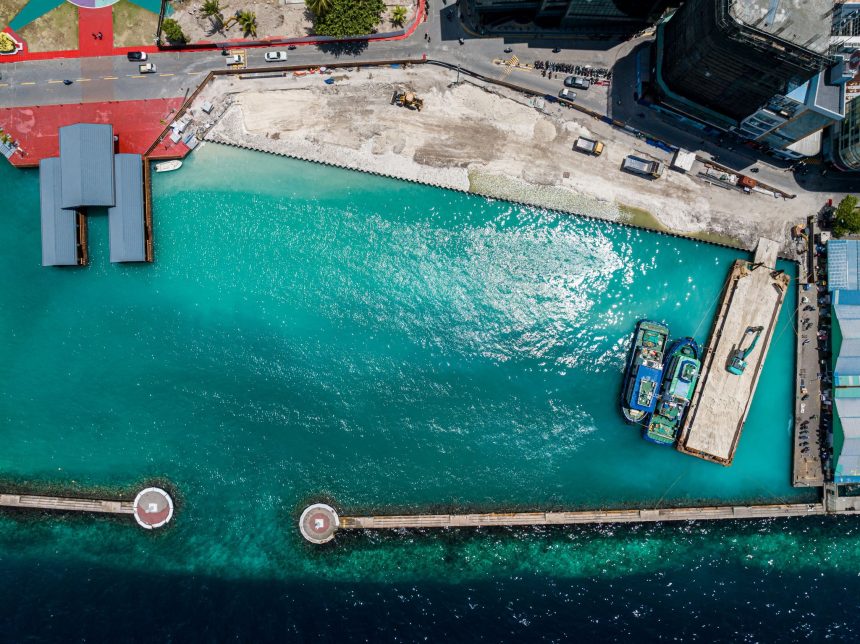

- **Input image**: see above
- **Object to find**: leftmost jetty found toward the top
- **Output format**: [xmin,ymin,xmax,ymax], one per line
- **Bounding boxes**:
[53,204,88,266]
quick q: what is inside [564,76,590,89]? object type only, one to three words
vehicle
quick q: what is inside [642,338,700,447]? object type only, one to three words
boat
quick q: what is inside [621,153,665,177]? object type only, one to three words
truck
